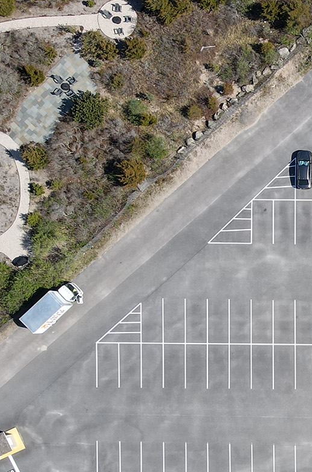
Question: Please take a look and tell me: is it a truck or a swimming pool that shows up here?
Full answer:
There is a truck in the scene.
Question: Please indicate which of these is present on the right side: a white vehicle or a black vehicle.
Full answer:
Visible on the right side is a black vehicle.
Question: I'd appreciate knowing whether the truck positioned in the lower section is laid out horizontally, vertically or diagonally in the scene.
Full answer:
From this overhead view, the truck positioned in the lower section appears to run diagonally.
